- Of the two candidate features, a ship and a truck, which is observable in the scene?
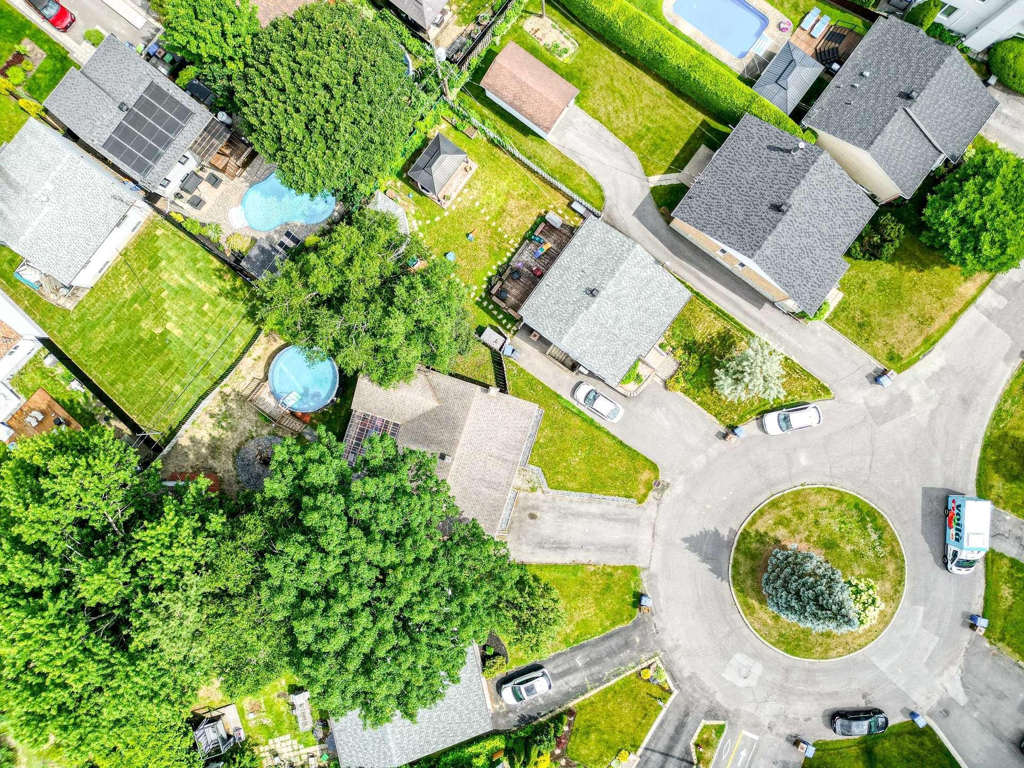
truck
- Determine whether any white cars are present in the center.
Yes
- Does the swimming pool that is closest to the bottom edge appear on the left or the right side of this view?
left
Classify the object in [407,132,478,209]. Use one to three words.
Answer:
gazebo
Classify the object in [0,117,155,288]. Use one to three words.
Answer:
house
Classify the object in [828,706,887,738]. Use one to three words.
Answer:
car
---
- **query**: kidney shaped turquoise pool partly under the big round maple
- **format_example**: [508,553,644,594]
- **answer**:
[226,167,338,233]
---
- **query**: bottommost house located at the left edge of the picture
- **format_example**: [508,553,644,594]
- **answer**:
[0,286,59,424]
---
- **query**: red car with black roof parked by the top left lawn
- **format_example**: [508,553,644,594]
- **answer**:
[28,0,80,35]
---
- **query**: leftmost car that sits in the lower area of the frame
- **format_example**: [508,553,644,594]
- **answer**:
[498,665,554,705]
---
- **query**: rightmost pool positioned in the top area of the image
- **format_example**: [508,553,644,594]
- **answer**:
[674,0,774,57]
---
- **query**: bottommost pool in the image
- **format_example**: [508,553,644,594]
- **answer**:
[268,343,343,414]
